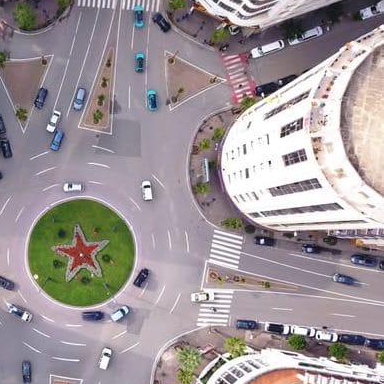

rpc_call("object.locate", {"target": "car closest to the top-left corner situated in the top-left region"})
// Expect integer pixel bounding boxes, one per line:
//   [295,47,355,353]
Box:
[33,87,49,109]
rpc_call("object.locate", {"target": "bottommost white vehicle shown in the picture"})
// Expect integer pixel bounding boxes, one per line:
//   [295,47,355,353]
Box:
[98,346,112,370]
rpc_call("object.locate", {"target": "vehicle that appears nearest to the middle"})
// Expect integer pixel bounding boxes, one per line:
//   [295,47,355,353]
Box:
[140,180,153,202]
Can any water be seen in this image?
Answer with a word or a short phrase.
No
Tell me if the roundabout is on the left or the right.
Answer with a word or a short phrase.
left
